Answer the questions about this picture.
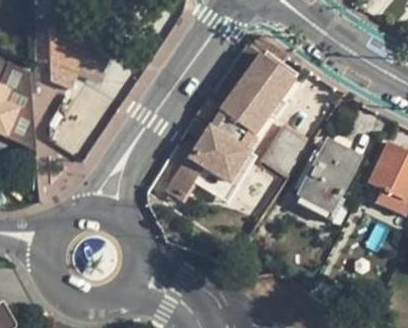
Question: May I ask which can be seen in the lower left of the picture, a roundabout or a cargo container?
roundabout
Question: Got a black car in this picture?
No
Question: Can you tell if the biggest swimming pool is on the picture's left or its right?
right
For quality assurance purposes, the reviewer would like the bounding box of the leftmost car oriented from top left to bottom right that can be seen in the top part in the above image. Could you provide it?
[306,43,327,60]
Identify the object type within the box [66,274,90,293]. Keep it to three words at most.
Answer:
car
